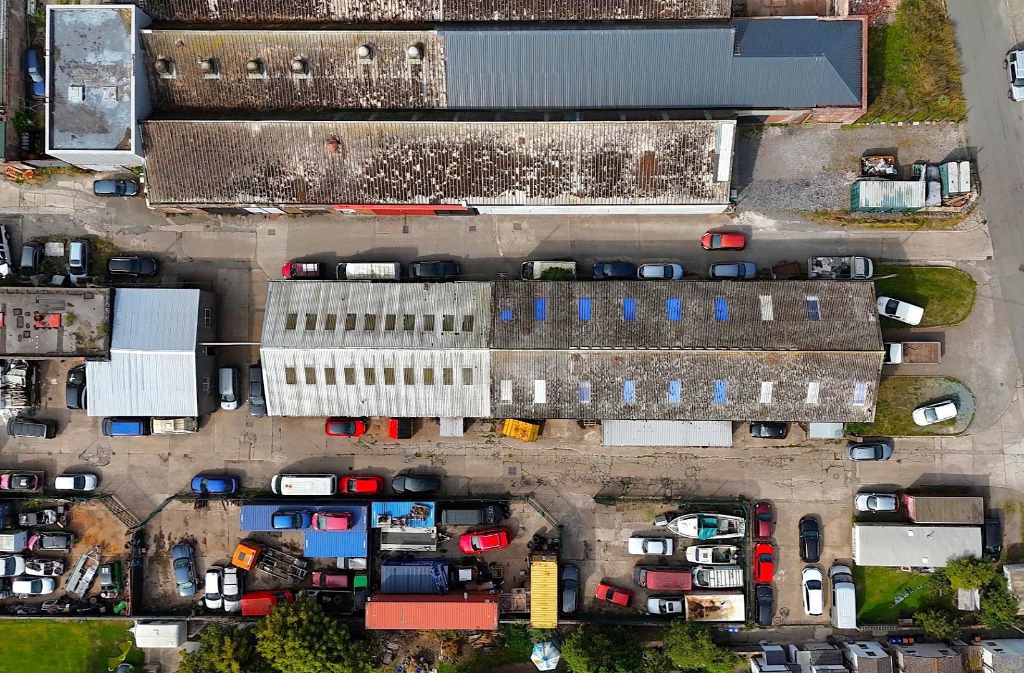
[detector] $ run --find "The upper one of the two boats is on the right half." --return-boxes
[668,512,744,539]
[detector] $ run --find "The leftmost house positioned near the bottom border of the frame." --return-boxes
[747,639,792,673]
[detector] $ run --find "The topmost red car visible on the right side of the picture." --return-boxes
[699,231,745,252]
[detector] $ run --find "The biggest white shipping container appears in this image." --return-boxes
[846,181,927,213]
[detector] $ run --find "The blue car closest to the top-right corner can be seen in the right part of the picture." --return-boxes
[708,258,756,279]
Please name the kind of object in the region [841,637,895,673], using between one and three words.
house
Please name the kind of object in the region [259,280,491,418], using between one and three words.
shed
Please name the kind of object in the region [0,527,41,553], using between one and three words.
trailer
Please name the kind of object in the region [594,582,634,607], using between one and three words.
car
